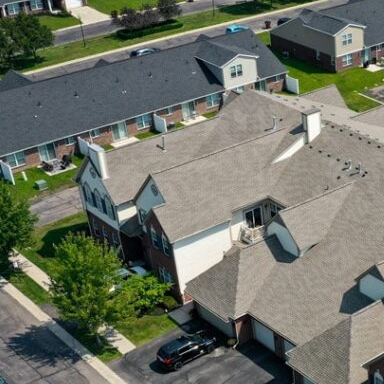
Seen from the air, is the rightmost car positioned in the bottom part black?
Yes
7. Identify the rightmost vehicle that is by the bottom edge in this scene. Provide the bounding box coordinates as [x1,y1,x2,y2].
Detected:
[154,334,216,370]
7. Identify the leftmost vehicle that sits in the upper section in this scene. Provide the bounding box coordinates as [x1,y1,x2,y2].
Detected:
[128,42,160,55]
